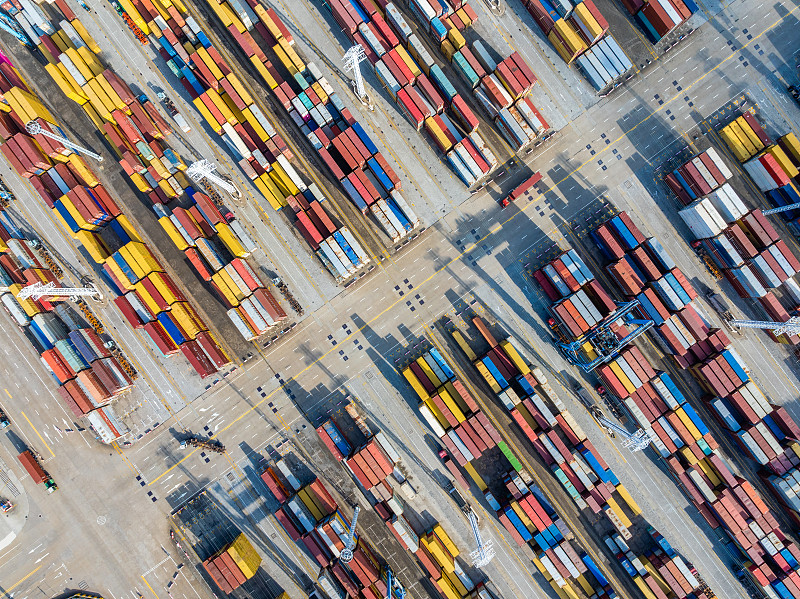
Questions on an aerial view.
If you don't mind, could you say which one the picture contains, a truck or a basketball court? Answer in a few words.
truck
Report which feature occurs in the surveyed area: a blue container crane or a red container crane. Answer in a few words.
blue container crane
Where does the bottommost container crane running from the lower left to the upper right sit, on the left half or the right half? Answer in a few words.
right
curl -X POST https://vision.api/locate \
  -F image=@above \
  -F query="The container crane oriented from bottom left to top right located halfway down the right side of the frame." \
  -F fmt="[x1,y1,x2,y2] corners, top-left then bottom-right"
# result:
[555,298,658,372]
